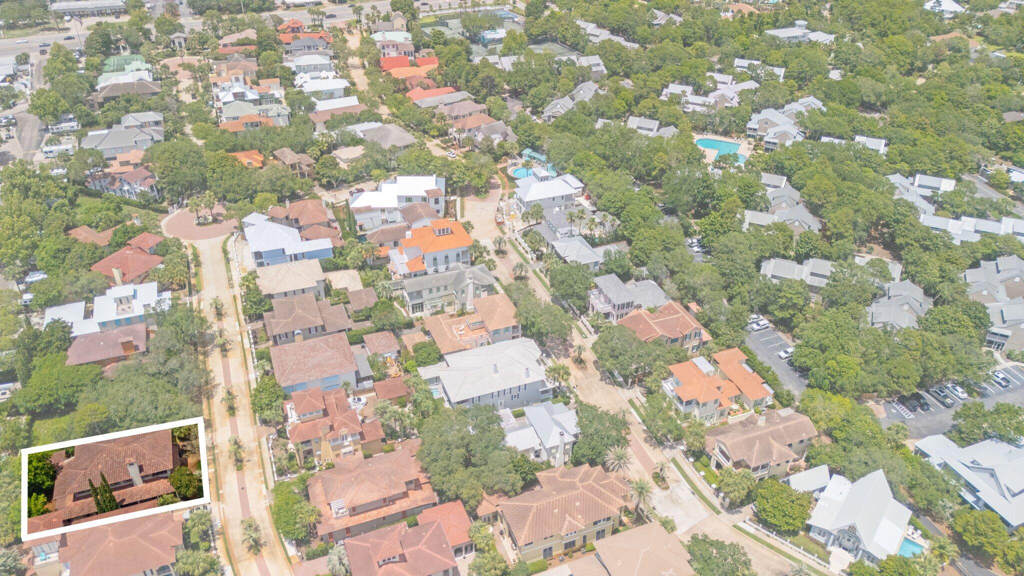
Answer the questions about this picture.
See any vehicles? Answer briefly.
Yes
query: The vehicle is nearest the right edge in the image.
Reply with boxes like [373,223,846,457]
[988,369,1016,388]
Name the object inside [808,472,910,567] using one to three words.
building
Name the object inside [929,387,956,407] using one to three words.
vehicle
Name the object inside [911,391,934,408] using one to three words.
car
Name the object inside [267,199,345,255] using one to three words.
house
